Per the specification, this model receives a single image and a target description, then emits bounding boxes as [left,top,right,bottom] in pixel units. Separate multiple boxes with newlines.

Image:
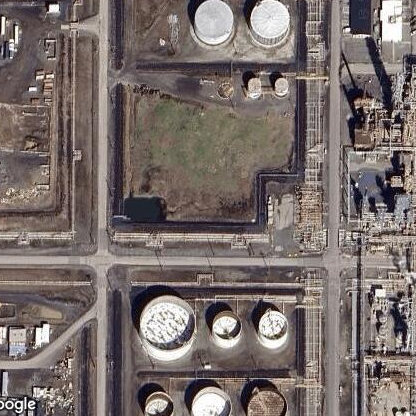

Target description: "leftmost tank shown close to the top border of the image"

[192,0,236,47]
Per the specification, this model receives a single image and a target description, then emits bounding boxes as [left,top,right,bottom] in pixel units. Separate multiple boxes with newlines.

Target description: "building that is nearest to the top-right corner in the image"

[380,0,401,46]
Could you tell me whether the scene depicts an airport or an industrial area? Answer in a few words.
industrial area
